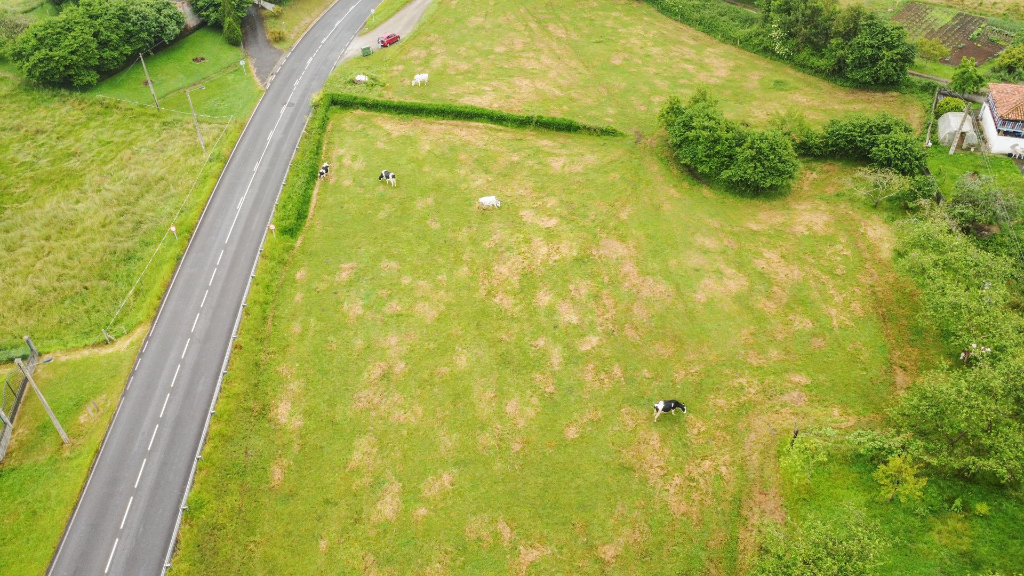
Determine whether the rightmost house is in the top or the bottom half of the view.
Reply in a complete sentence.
Seen from above, the rightmost house lies in the top half of the view.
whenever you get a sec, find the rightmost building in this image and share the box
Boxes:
[976,81,1024,158]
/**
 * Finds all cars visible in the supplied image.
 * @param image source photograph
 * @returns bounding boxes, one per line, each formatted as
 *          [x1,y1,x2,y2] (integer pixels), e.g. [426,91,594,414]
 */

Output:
[375,32,400,47]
